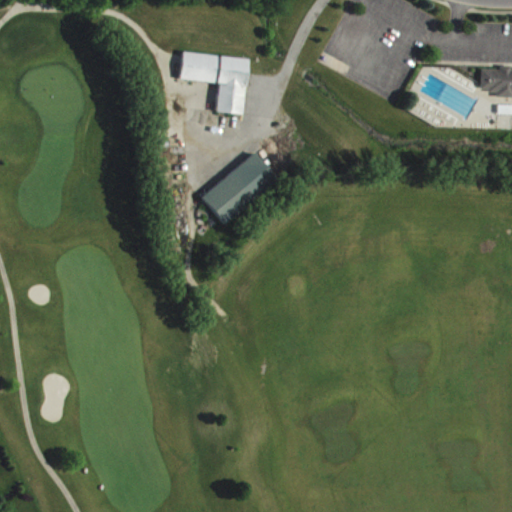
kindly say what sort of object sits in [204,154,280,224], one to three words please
barn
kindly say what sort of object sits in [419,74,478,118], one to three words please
swimming pool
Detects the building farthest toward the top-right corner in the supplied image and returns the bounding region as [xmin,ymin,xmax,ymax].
[481,68,512,96]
